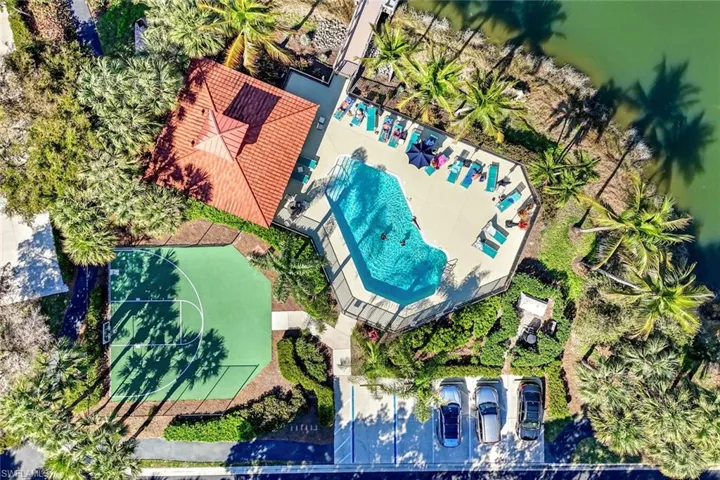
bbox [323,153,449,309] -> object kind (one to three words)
swimming pool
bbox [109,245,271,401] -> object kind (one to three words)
basketball court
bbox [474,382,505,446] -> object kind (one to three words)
car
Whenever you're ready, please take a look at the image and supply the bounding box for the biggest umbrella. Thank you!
[406,139,436,170]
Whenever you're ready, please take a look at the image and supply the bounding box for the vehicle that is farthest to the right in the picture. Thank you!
[514,378,547,440]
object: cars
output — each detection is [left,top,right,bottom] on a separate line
[474,382,505,446]
[514,378,547,440]
[436,382,466,448]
